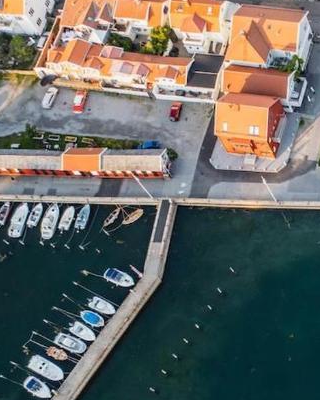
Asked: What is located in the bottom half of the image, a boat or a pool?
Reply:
boat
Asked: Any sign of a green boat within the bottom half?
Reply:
No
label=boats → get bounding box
[123,207,145,225]
[103,206,121,229]
[76,205,91,231]
[27,204,44,228]
[45,348,71,362]
[58,205,76,232]
[0,204,11,227]
[101,267,135,288]
[86,297,115,316]
[51,333,88,354]
[79,311,106,328]
[66,321,96,342]
[40,203,61,240]
[23,354,67,380]
[19,376,54,399]
[9,203,30,237]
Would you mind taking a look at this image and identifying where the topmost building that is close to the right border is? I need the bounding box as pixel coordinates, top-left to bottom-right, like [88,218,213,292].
[219,8,316,76]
